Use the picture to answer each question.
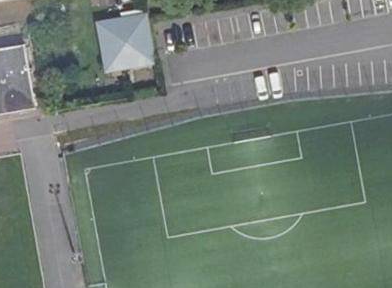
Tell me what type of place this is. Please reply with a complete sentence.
This image shows a sports ground.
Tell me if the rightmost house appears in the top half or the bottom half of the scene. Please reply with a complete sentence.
It is in the top half that the rightmost house appears.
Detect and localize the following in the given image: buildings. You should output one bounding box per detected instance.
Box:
[96,10,156,72]
[0,45,36,114]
